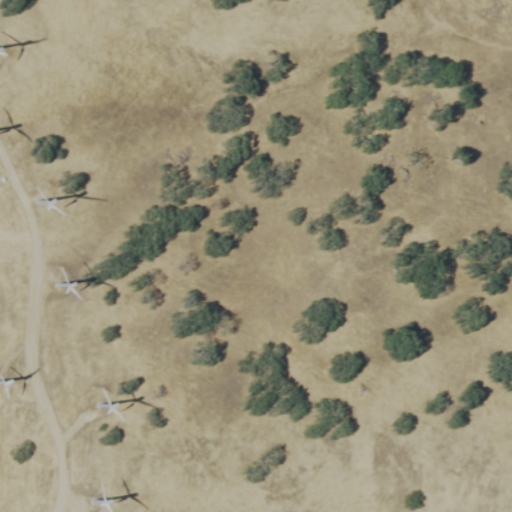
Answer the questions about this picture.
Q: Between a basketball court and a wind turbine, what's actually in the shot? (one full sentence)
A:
Of the two, only a wind turbine appears.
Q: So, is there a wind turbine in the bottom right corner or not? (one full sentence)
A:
No, there's no wind turbine to be seen in the bottom right corner.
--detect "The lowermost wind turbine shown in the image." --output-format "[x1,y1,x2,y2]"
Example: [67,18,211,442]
[92,486,114,512]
